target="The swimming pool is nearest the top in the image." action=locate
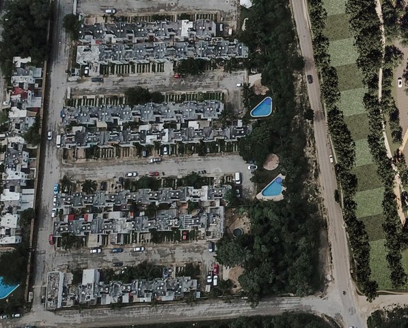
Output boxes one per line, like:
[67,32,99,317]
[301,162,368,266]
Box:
[250,97,272,118]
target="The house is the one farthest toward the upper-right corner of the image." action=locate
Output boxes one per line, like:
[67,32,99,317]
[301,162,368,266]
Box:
[225,43,249,61]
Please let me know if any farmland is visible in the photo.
No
